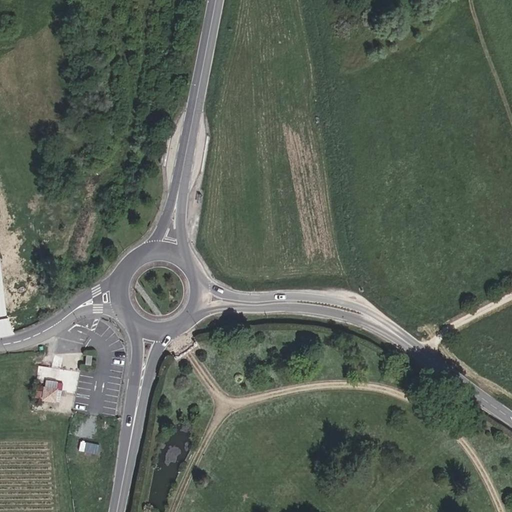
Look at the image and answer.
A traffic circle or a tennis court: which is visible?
traffic circle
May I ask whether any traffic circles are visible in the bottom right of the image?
No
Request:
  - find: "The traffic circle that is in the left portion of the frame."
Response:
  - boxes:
[112,244,208,338]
